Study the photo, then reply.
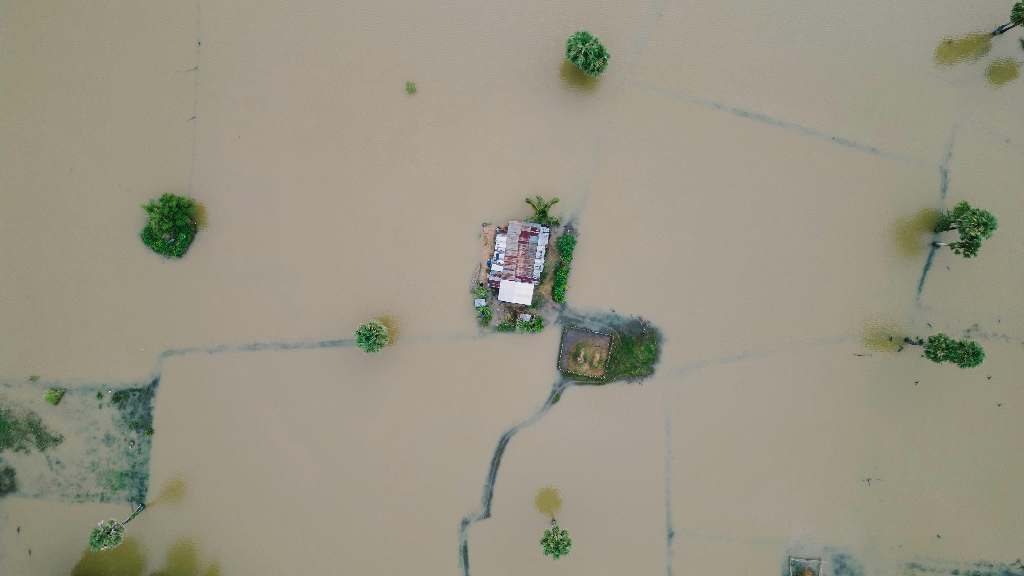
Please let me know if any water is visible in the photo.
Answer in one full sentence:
Yes, the picture does contain water.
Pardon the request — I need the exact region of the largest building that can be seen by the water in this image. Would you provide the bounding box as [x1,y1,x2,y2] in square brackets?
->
[487,221,549,305]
